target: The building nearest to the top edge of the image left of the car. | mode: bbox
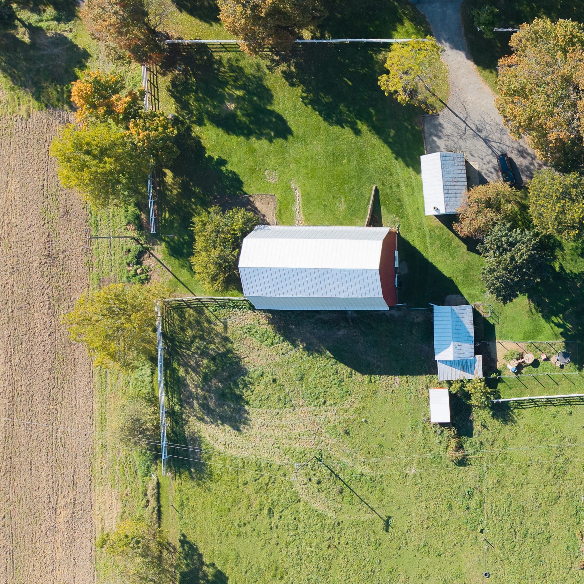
[420,152,468,215]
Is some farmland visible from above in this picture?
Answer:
Yes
